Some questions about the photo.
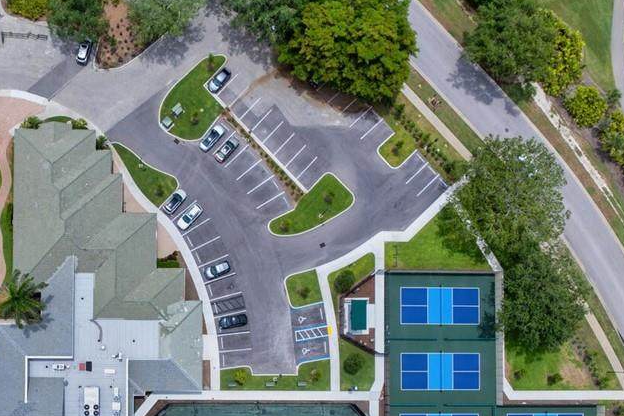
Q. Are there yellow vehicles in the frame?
No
